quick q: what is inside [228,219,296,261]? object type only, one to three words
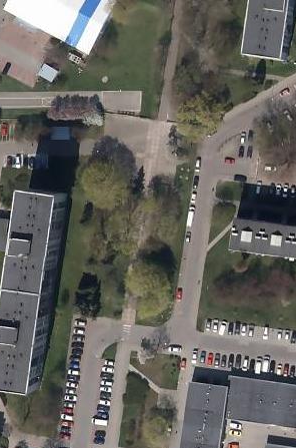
building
